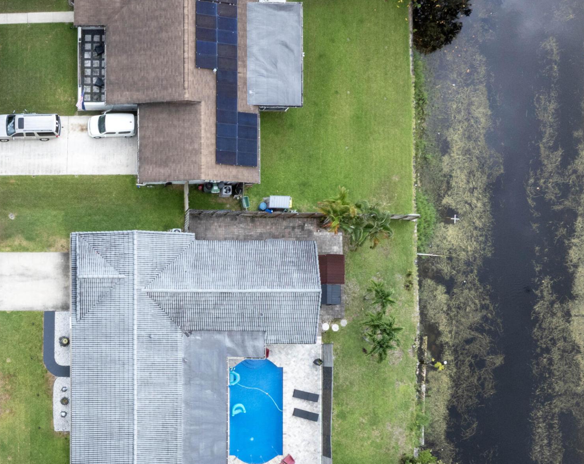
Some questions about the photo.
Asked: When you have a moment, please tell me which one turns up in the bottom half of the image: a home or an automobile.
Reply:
home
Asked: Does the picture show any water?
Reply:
Yes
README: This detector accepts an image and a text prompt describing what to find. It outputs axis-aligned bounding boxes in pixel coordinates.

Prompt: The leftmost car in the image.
[0,110,61,143]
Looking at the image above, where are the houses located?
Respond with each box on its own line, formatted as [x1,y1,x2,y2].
[70,229,322,464]
[74,0,304,185]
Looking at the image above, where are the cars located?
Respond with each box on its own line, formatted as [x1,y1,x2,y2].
[0,110,61,143]
[86,111,136,140]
